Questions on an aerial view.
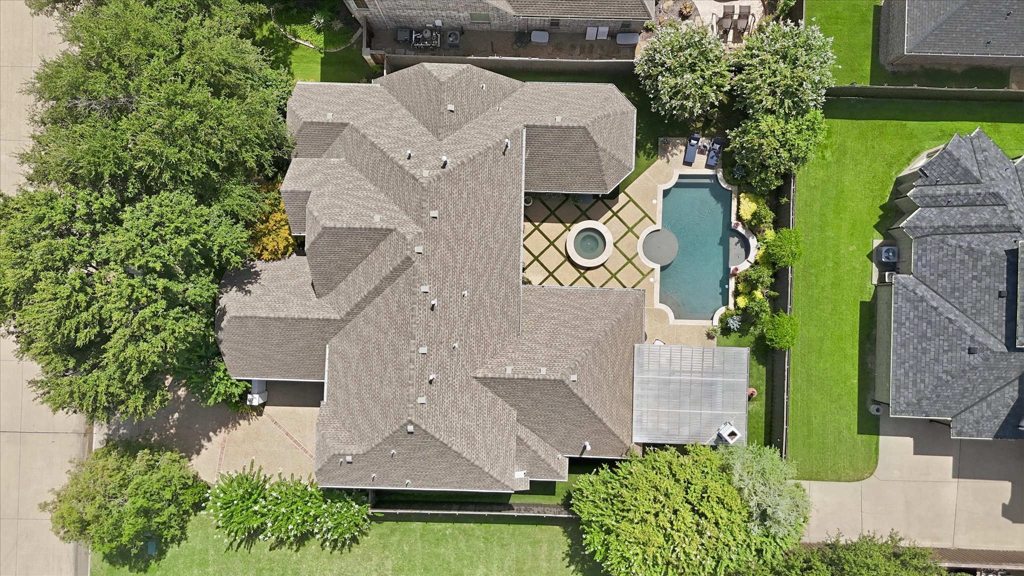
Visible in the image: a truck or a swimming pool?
swimming pool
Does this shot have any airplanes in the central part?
No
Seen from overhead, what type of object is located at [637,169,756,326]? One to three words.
swimming pool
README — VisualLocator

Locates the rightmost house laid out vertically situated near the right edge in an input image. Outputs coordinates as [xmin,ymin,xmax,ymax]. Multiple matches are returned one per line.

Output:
[872,127,1024,443]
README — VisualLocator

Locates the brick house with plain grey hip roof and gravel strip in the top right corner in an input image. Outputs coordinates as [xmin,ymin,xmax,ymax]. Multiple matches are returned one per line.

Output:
[889,0,1024,68]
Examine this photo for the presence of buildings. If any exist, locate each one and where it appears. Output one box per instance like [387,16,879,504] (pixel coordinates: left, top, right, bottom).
[214,62,647,494]
[889,0,1024,68]
[347,0,662,34]
[872,127,1024,443]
